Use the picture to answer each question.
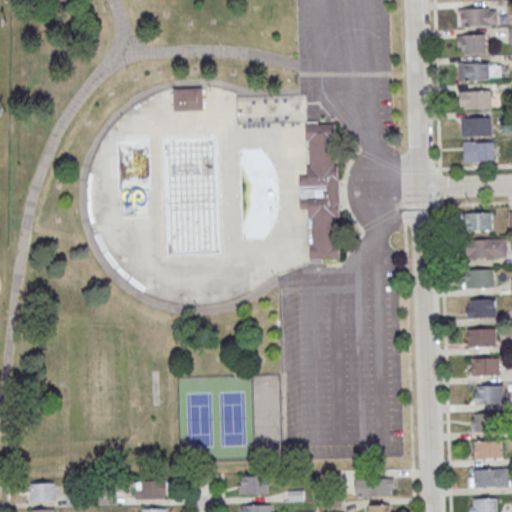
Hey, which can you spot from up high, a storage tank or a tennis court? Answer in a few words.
tennis court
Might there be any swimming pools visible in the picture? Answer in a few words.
Yes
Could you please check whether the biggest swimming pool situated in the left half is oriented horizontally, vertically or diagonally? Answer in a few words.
vertically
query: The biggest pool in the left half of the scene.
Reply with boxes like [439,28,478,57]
[164,137,220,256]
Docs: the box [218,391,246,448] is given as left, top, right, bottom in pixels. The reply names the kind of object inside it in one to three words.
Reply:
tennis court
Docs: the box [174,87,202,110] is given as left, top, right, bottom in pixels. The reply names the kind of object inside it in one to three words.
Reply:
building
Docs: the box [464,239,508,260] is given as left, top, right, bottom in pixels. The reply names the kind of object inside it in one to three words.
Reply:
house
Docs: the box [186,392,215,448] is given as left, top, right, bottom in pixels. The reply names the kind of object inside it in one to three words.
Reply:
tennis court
